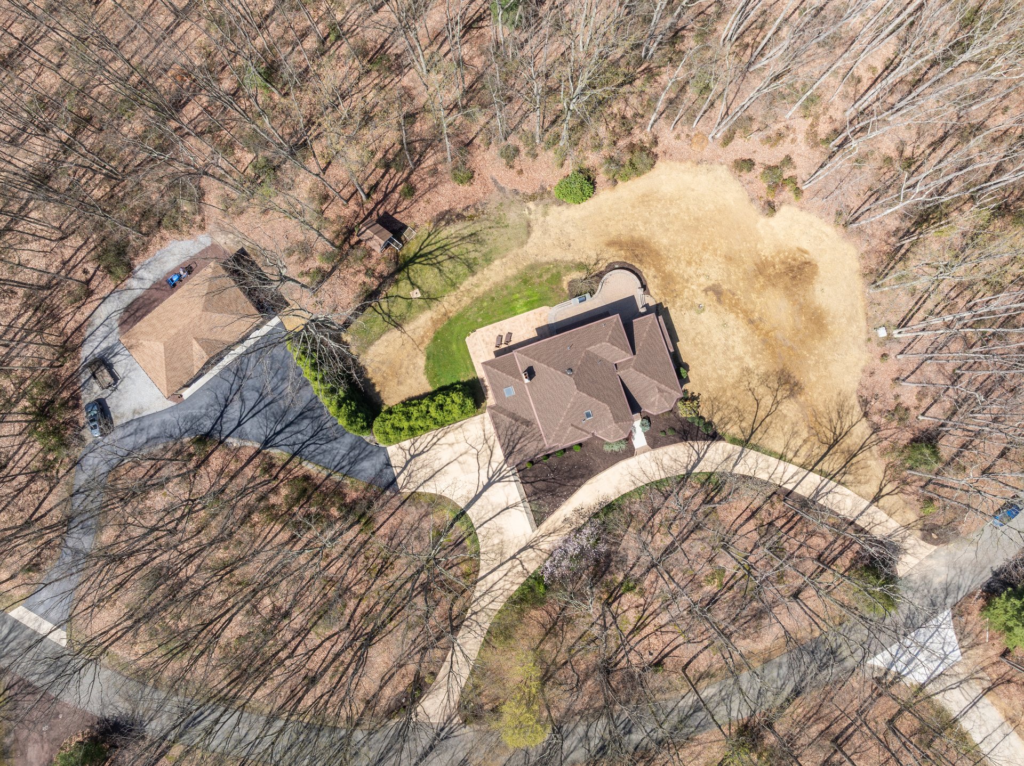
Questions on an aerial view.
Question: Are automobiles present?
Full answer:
Yes, there's an automobile here.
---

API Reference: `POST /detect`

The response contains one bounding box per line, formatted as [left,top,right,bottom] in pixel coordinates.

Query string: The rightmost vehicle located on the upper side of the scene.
[171,261,200,286]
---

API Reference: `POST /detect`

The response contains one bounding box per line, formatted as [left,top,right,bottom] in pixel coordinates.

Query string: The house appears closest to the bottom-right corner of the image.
[480,311,684,469]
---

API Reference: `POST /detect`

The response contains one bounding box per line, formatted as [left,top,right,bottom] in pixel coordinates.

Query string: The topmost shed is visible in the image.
[358,219,404,256]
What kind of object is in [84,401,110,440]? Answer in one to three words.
car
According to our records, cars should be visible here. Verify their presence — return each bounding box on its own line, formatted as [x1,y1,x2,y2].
[990,502,1024,531]
[84,401,110,440]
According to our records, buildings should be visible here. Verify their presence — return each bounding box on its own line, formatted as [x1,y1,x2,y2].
[480,311,684,469]
[119,261,267,399]
[358,219,404,256]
